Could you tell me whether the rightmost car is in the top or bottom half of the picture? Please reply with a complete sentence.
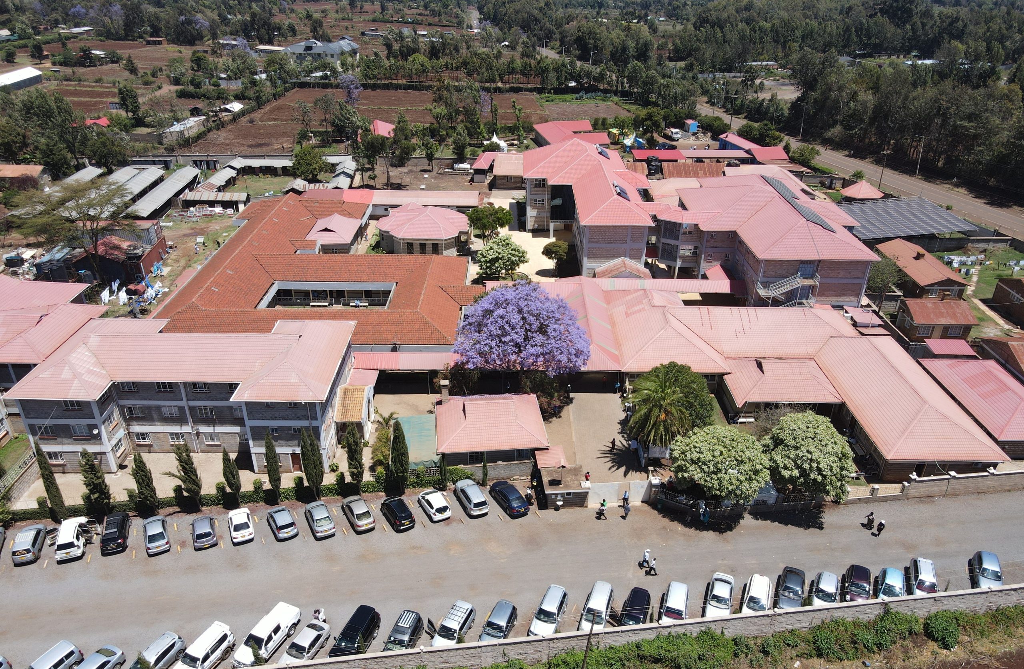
It is in the bottom half that the rightmost car appears.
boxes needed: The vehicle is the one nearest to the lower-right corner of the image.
[973,549,1007,586]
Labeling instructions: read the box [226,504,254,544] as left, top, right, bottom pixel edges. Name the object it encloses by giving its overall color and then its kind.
white car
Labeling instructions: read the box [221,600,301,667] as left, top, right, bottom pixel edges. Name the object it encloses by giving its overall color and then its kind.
white car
